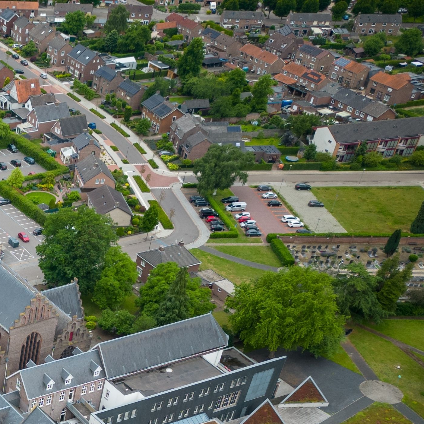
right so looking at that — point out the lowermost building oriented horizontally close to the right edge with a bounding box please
[312,114,424,163]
